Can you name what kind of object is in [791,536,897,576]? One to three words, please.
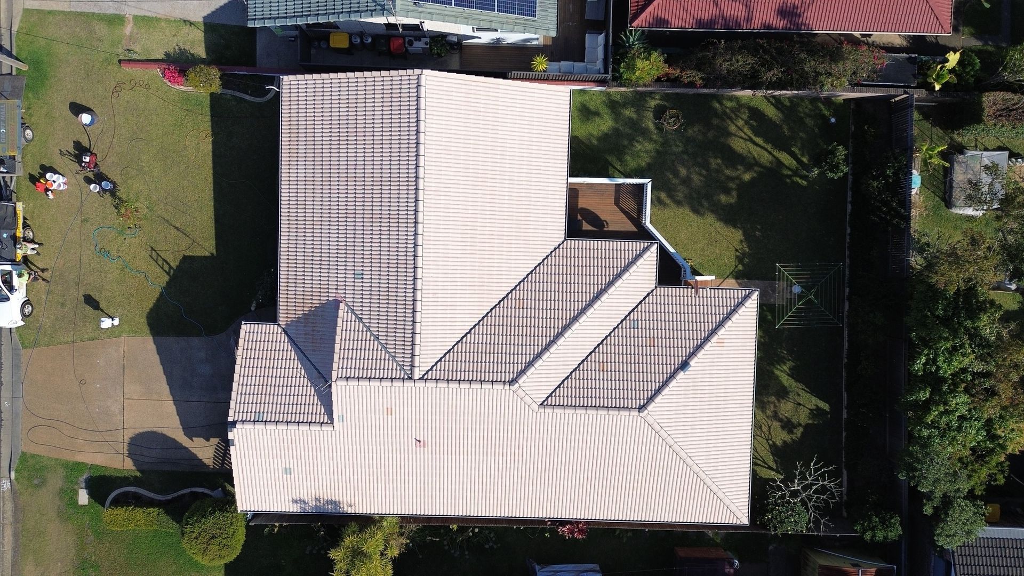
shed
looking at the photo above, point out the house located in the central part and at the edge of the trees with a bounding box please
[227,67,761,527]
